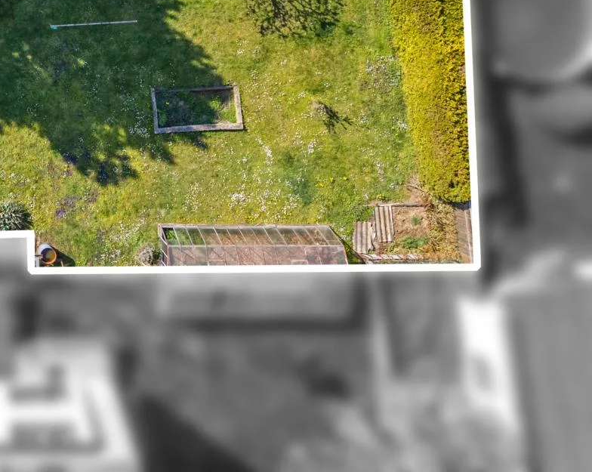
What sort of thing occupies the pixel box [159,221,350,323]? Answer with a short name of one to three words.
greenhouse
